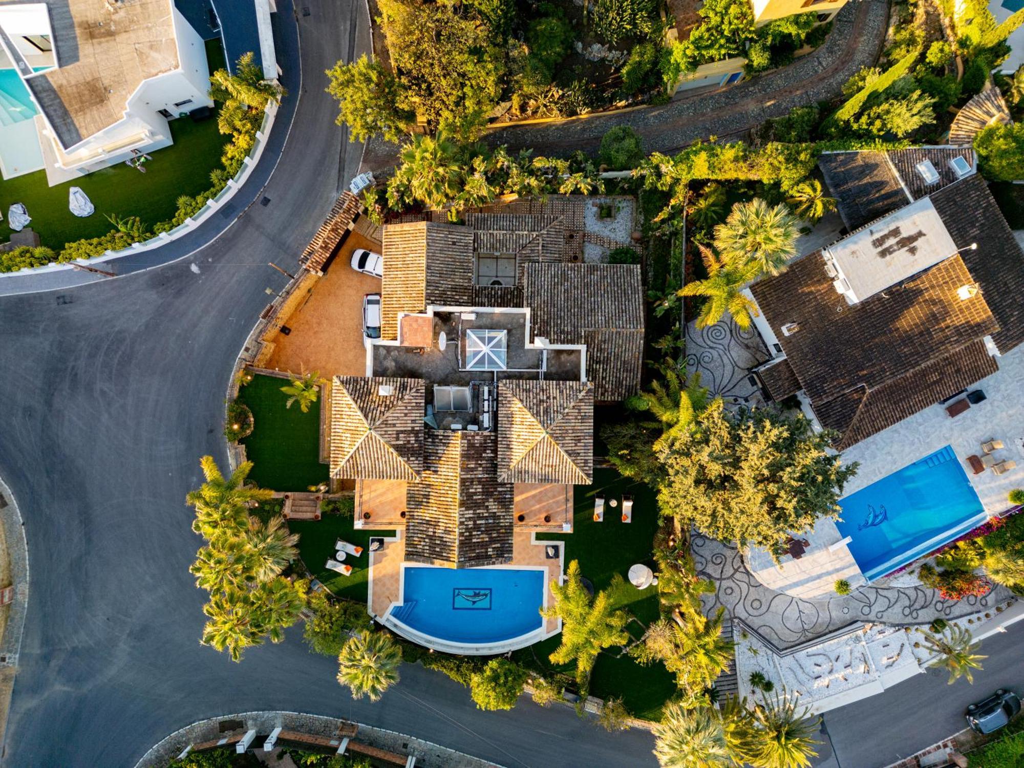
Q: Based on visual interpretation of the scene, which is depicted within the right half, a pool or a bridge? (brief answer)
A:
pool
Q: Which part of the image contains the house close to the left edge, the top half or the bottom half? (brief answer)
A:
top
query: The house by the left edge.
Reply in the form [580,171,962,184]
[0,0,217,181]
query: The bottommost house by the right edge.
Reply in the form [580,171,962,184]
[751,145,1024,450]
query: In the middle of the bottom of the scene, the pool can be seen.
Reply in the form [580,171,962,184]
[378,562,560,663]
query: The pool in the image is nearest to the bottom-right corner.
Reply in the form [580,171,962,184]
[832,445,989,593]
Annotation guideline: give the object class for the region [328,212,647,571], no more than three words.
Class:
house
